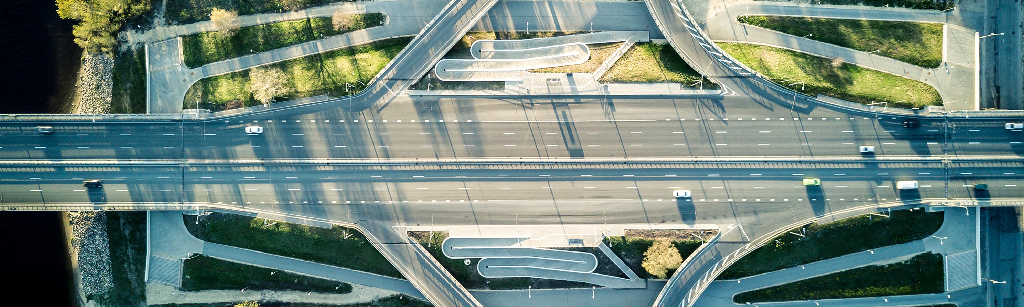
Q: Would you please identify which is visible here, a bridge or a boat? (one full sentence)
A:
Looking from above, you can make out a bridge.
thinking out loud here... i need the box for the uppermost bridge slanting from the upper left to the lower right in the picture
[644,0,757,78]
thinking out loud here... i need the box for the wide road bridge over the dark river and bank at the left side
[0,113,188,211]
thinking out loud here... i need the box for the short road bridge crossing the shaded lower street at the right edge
[940,111,1024,207]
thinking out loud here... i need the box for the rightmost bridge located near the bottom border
[651,243,762,307]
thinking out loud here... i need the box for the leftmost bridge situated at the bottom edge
[372,242,484,307]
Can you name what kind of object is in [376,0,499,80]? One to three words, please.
bridge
